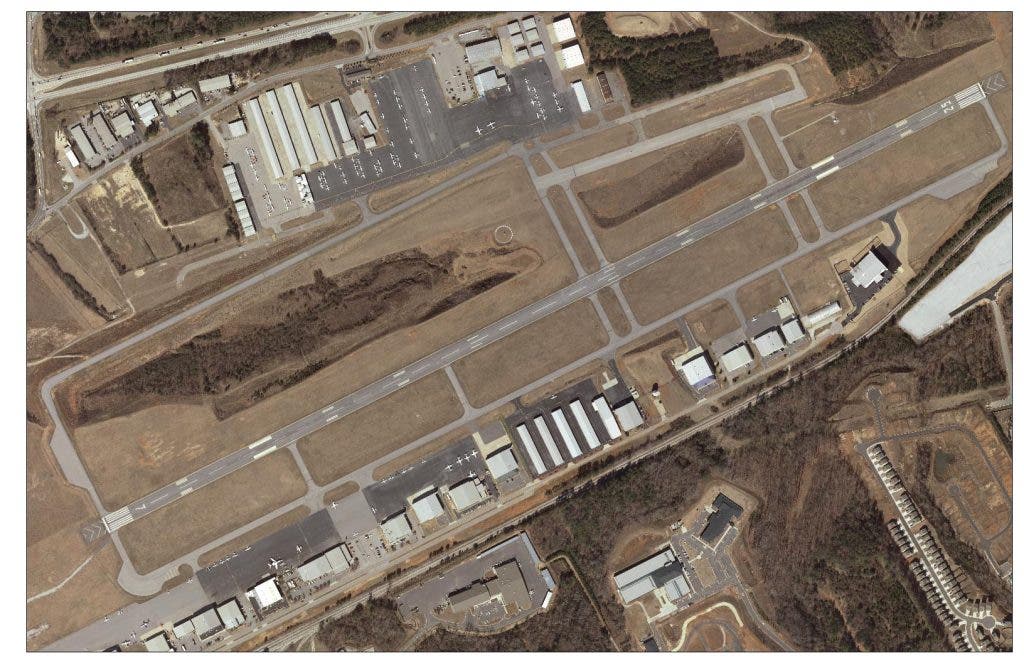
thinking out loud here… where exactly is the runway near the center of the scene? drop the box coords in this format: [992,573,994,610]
[81,74,1006,541]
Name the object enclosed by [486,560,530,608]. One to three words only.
building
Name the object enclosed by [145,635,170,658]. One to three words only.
hangar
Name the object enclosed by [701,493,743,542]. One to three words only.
building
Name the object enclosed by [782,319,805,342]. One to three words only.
hangar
